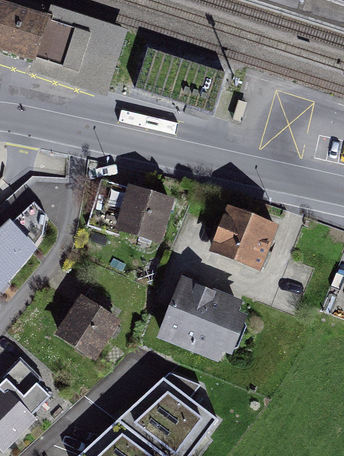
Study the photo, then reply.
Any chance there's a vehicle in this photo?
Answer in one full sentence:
Yes, the picture does show a vehicle.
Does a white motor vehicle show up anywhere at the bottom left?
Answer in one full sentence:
No, the scene shows no white motor vehicle at the bottom left.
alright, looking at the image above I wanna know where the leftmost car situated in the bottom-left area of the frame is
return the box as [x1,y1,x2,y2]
[0,334,18,354]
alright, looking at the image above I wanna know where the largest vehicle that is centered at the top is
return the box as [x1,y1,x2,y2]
[118,108,180,138]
